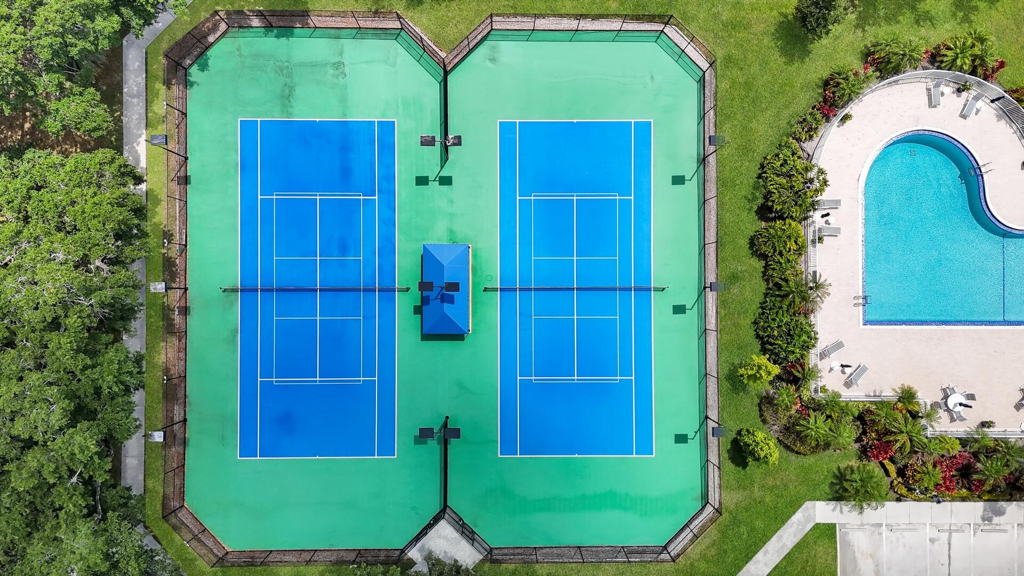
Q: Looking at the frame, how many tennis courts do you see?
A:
2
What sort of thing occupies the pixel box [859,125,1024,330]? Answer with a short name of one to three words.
swimming pool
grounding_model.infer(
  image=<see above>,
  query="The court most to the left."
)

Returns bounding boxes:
[184,27,447,551]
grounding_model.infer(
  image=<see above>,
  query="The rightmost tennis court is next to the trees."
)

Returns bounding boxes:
[447,30,708,547]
